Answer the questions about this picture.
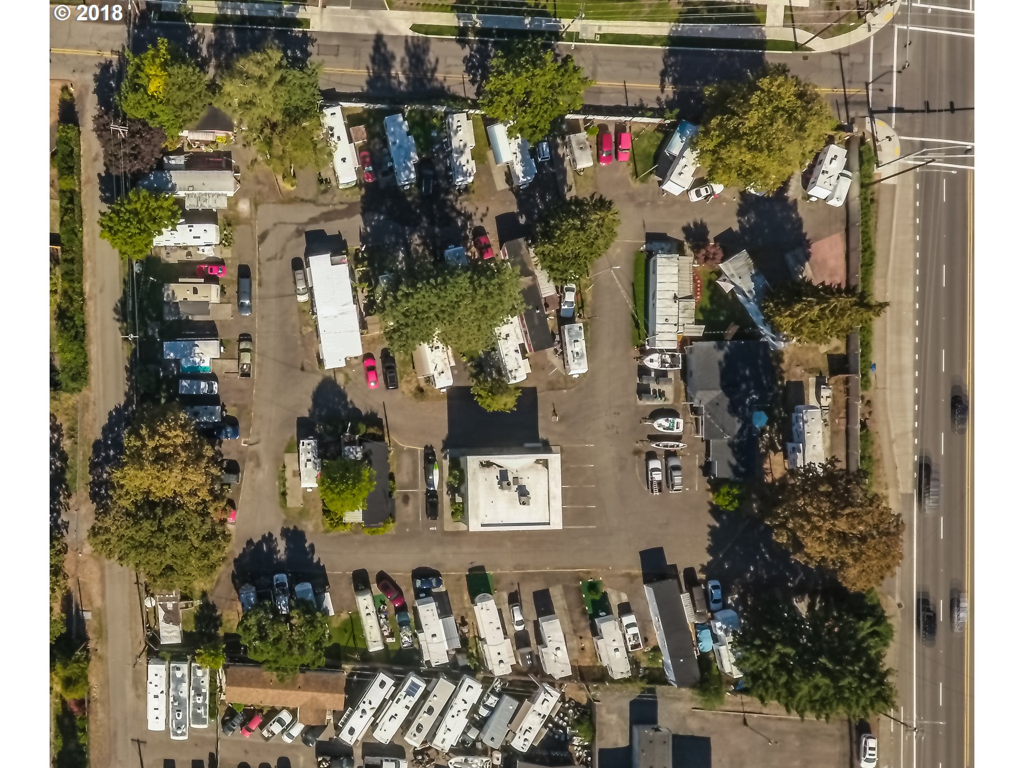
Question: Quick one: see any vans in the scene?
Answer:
Yes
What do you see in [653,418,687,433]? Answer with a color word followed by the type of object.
white boat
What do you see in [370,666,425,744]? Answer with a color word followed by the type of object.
white camper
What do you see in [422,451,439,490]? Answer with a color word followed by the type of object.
black car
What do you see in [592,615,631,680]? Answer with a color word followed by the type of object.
white trailer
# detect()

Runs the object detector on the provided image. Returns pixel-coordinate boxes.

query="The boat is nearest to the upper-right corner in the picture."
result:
[642,352,685,370]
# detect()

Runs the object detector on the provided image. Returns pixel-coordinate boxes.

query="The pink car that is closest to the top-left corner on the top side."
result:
[195,265,227,278]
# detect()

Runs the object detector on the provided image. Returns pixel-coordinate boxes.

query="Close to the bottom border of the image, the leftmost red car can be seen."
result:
[239,709,266,740]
